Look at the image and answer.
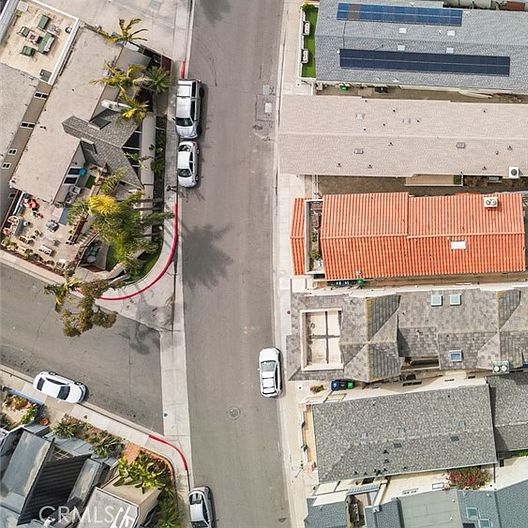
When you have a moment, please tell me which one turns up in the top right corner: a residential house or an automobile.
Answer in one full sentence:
There is a residential house in the top right corner.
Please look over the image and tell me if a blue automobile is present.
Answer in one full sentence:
No, I find no blue automobile anywhere in the image.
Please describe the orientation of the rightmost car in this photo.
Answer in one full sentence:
The rightmost car is oriented vertically.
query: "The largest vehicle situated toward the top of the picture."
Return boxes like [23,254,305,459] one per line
[176,78,204,139]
